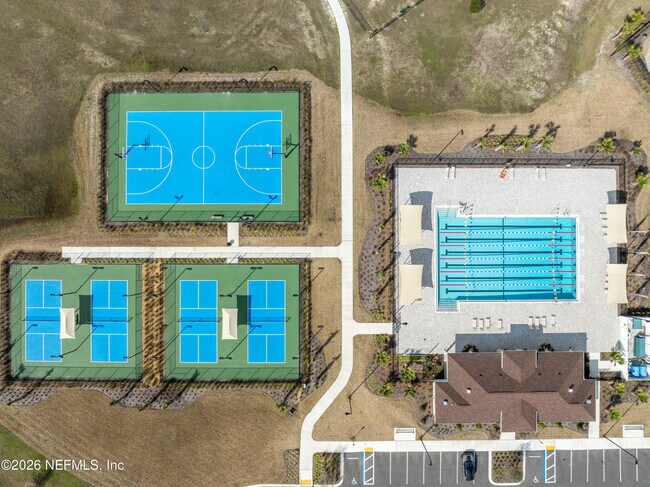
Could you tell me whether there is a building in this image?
Yes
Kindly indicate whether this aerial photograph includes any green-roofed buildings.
No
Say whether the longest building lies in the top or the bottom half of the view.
bottom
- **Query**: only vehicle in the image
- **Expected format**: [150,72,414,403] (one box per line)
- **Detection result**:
[463,449,478,481]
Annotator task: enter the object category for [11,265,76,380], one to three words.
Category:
sports court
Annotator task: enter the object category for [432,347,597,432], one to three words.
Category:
building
